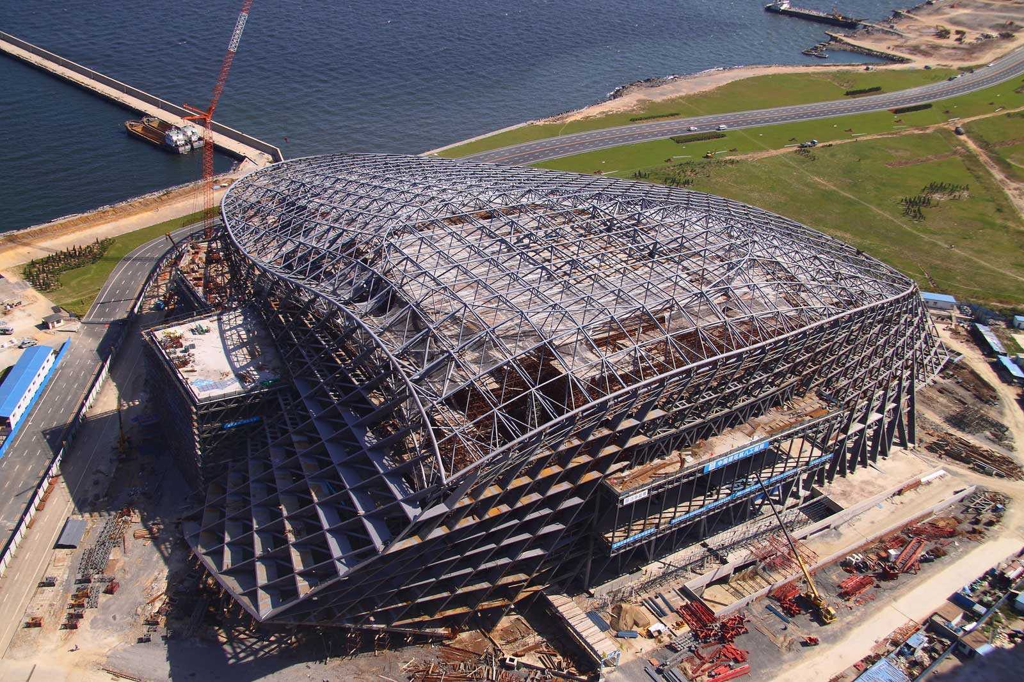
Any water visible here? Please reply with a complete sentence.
Yes, there's water in this view.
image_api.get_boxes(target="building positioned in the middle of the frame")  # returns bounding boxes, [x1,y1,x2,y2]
[134,152,967,636]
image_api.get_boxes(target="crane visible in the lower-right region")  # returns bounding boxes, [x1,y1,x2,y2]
[749,474,844,623]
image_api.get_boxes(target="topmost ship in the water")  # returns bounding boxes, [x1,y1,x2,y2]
[764,0,875,26]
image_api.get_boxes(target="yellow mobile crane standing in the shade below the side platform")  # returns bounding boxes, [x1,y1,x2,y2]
[106,402,136,464]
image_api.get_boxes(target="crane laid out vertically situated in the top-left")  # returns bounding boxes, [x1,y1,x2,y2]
[168,0,255,265]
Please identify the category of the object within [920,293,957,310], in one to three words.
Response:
shed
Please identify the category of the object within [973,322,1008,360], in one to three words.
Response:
shed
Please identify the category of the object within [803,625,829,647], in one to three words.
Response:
work vehicle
